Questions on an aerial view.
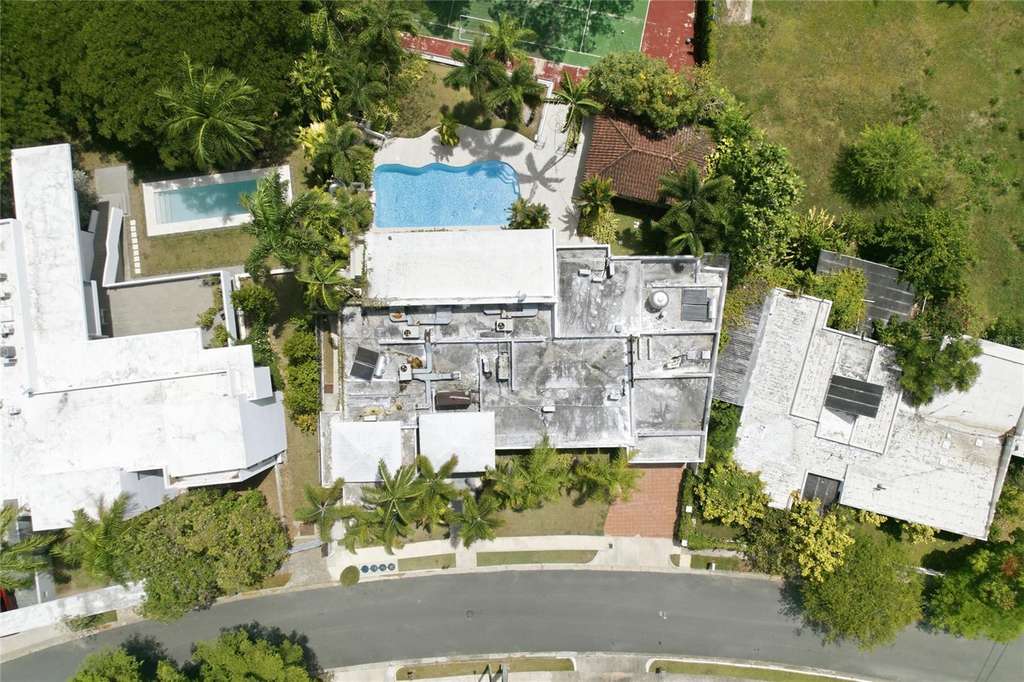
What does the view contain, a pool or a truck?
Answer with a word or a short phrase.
pool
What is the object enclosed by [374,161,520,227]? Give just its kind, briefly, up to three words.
swimming pool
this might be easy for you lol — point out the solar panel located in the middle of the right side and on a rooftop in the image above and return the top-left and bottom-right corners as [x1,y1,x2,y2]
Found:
[820,374,889,419]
